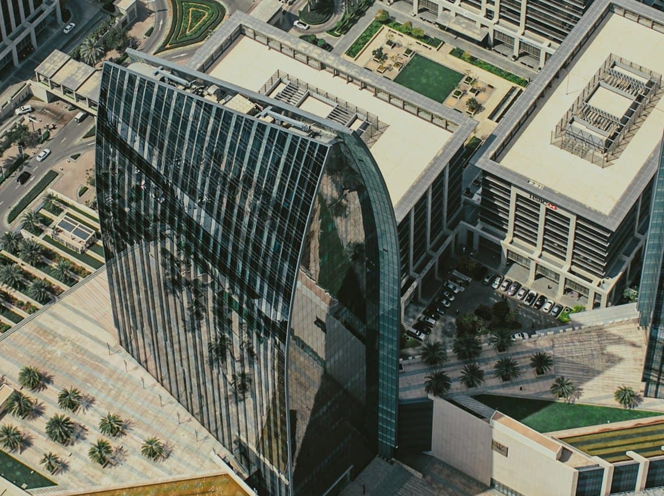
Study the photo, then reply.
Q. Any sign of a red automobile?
No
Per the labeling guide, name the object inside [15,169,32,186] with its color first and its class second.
black car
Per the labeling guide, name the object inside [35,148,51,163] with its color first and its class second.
white car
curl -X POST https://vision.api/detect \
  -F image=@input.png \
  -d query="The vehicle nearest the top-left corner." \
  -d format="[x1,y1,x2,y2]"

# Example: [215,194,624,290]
[62,21,76,35]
